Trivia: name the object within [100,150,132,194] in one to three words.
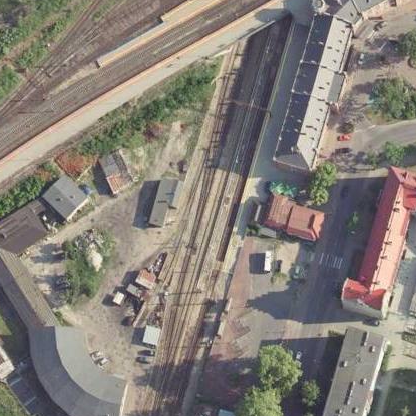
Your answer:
shed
